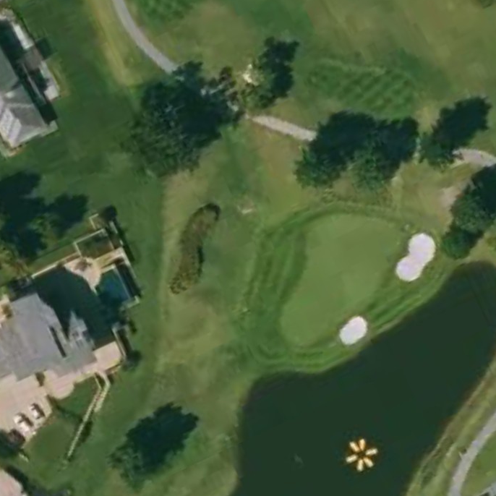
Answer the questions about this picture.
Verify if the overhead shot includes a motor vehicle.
Yes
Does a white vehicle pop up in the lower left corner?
Yes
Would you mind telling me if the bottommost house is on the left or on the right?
left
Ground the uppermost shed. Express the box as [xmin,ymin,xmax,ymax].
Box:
[19,40,44,67]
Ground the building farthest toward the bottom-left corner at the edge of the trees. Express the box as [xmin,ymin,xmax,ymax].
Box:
[0,280,102,381]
